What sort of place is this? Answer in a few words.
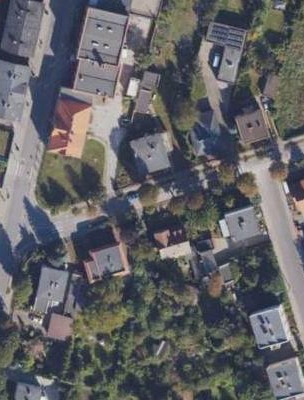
residential area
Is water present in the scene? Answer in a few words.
No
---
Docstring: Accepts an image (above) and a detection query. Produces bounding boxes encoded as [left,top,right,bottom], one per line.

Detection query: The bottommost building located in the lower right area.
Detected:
[266,357,304,400]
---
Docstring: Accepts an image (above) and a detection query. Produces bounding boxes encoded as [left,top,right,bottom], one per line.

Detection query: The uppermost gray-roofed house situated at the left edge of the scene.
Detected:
[1,0,46,59]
